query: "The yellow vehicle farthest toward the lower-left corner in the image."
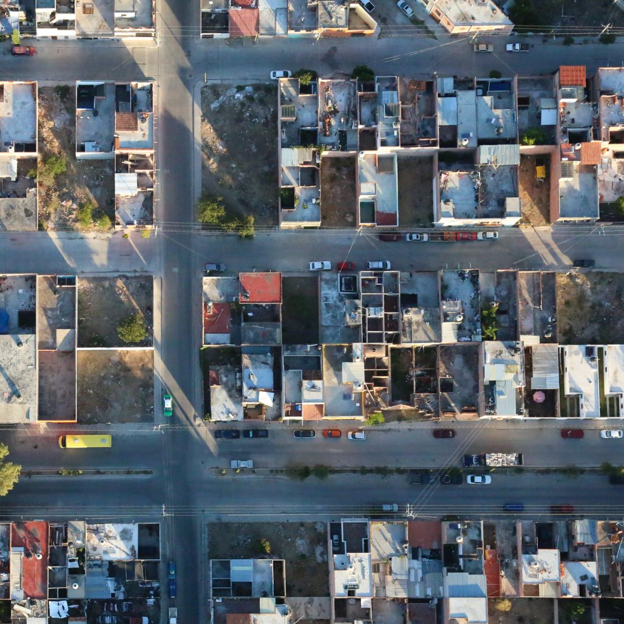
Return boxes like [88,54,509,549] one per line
[59,433,112,448]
